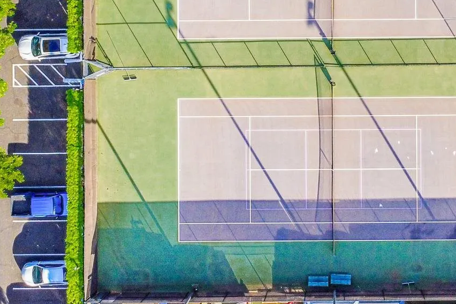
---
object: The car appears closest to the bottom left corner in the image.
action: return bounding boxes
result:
[25,259,70,288]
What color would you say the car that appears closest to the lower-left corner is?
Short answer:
blue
